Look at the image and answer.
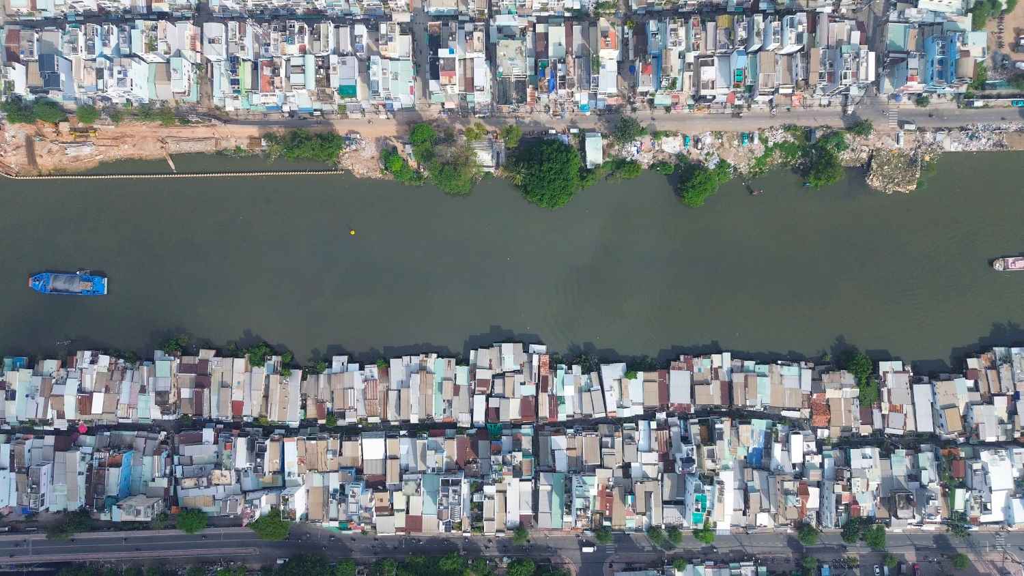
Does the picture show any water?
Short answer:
Yes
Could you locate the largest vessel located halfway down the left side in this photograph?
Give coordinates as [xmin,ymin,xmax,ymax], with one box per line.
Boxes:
[27,272,110,295]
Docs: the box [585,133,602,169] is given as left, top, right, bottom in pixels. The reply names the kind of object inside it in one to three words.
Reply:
shed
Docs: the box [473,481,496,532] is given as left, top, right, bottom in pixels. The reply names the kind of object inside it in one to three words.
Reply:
house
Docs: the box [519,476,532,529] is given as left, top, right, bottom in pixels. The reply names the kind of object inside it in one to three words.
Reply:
house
